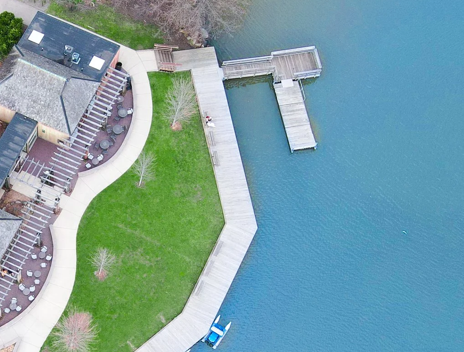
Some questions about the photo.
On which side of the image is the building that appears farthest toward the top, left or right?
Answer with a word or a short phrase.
left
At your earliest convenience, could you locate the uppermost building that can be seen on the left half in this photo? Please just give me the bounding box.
[0,12,119,149]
